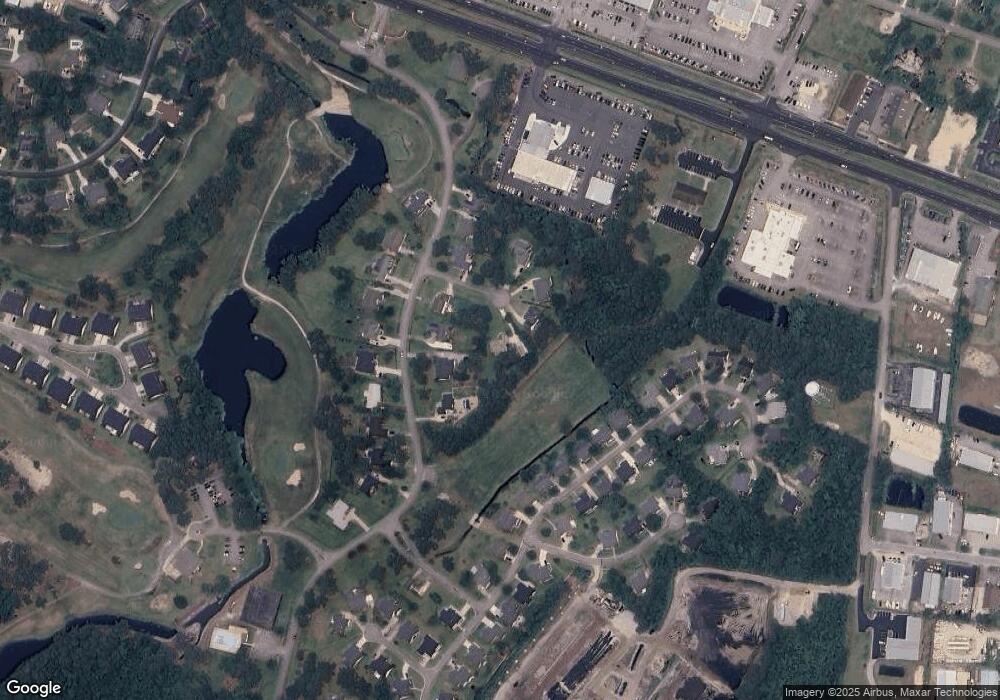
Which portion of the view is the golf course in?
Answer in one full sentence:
The golf course is in the left part of the image.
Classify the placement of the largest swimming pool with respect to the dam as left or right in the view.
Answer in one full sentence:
Looking at the photo, the largest swimming pool lies to the right of the dam.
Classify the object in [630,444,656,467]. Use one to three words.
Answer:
house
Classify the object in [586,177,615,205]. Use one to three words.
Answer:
building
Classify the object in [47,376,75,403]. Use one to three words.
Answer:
house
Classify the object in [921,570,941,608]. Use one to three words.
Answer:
shed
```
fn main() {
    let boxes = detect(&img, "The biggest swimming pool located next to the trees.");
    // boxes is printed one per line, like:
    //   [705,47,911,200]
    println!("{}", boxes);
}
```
[209,627,240,653]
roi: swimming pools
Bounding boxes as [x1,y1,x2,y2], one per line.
[209,627,240,653]
[69,40,83,50]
